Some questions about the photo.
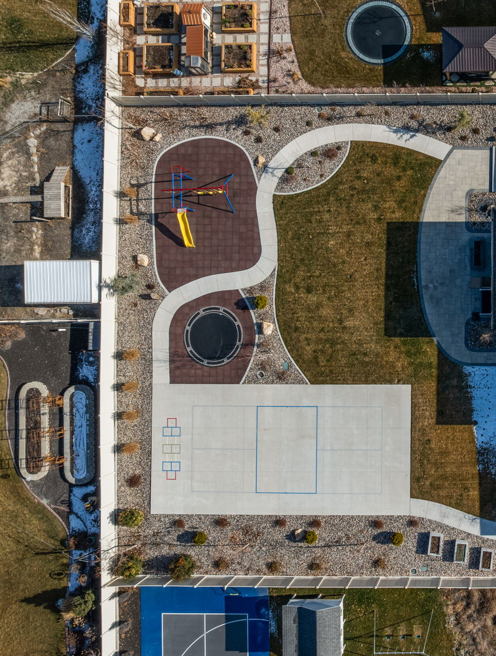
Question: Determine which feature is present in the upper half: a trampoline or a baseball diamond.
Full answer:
What appears in the upper half is a trampoline.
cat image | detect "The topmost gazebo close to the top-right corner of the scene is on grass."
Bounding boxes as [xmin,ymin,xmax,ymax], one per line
[442,26,496,85]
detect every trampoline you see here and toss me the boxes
[182,307,243,367]
[346,0,410,65]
